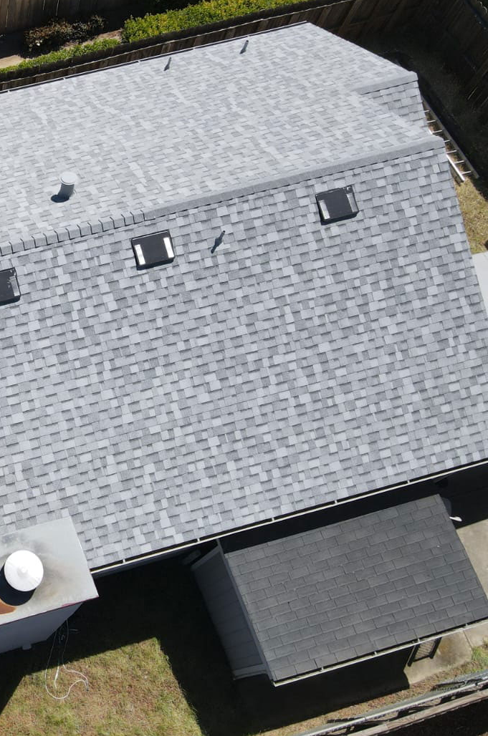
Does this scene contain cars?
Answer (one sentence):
No, the scene contains no car.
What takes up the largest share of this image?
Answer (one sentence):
Most of the picture is covered by buildings.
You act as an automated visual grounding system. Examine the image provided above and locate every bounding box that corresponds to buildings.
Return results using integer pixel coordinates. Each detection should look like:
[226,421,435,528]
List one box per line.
[199,493,488,695]
[0,18,488,651]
